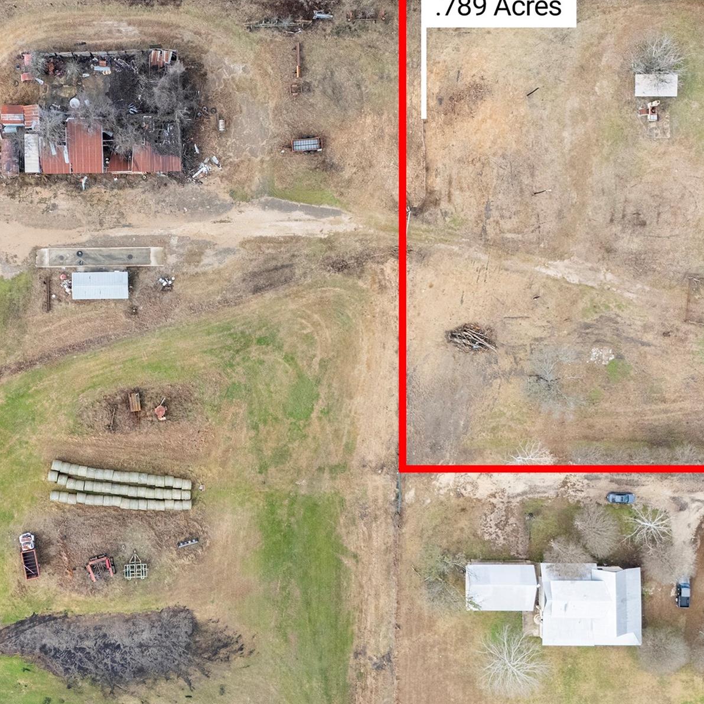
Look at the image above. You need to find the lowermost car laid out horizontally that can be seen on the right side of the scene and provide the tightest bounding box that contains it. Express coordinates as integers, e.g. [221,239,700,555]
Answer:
[608,493,637,506]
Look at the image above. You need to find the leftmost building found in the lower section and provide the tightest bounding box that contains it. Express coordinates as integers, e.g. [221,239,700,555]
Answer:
[463,561,541,611]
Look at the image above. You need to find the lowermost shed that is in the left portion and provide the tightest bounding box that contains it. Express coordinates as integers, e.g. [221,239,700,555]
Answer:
[72,269,129,300]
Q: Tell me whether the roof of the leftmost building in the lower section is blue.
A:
No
